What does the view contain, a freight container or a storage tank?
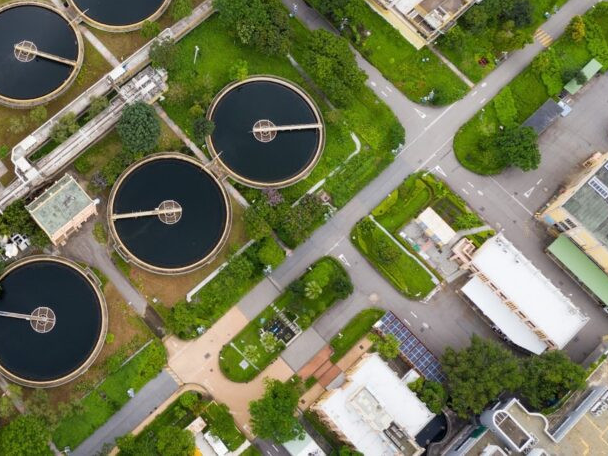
storage tank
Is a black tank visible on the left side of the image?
Yes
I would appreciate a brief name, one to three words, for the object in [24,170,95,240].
building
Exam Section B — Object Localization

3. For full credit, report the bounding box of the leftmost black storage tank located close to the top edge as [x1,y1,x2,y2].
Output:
[0,1,84,108]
